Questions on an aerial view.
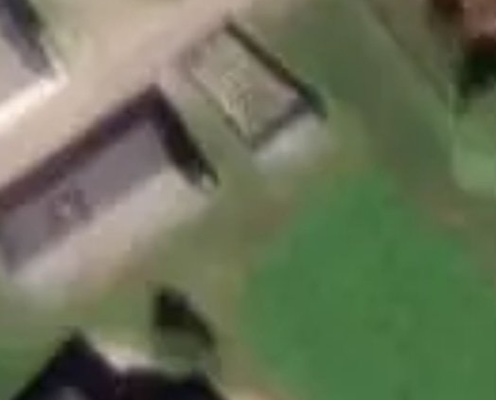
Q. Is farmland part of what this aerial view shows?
Yes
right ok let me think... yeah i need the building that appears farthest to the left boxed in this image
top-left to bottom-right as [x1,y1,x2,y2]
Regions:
[0,0,64,131]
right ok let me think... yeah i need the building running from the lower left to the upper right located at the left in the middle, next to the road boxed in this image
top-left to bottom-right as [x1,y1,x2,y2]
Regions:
[0,117,199,309]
